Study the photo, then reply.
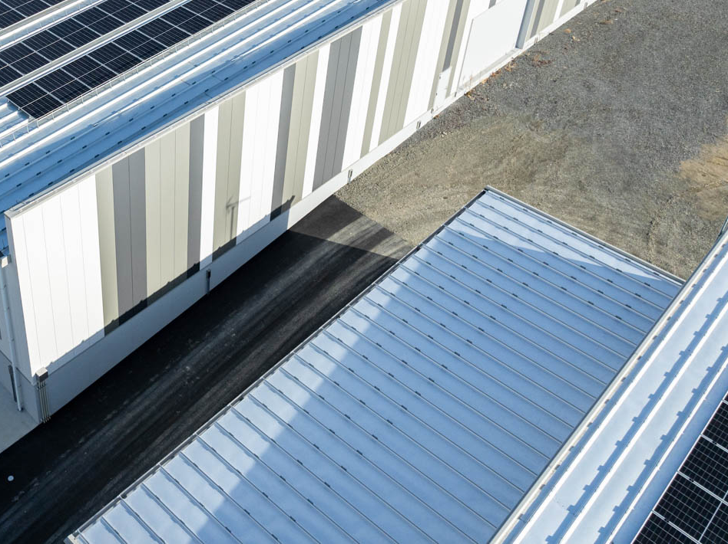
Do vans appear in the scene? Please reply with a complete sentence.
No, this view has no van in it.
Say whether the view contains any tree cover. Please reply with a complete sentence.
No, tree cover can't be seen anywhere here.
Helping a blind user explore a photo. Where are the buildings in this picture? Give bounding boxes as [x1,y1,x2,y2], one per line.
[71,181,687,544]
[0,0,595,424]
